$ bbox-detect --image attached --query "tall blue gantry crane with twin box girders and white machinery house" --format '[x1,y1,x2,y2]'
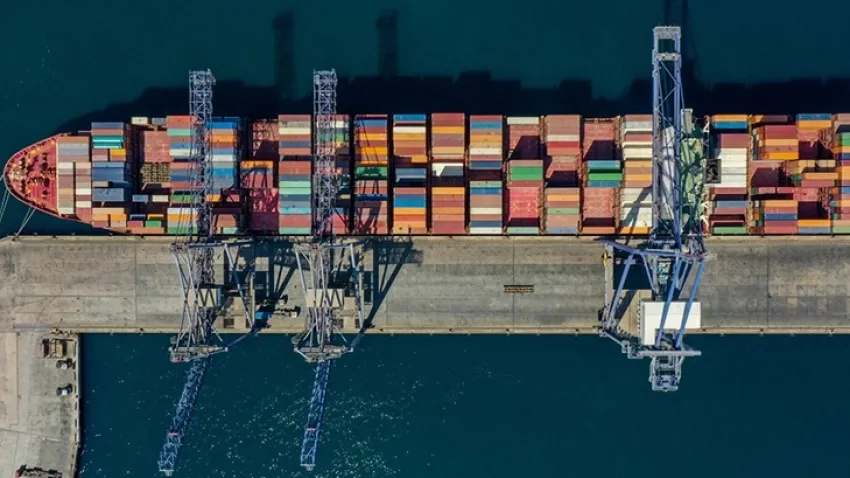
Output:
[590,26,718,390]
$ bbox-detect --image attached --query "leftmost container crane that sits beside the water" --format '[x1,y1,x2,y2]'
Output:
[157,69,263,469]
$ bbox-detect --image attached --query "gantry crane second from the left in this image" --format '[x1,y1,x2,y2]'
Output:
[288,69,369,469]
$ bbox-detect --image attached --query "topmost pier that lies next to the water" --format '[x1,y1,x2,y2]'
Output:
[0,237,850,332]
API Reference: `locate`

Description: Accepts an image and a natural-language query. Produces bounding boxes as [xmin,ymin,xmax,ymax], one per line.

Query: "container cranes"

[590,26,718,390]
[157,69,263,469]
[288,69,369,469]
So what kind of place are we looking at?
port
